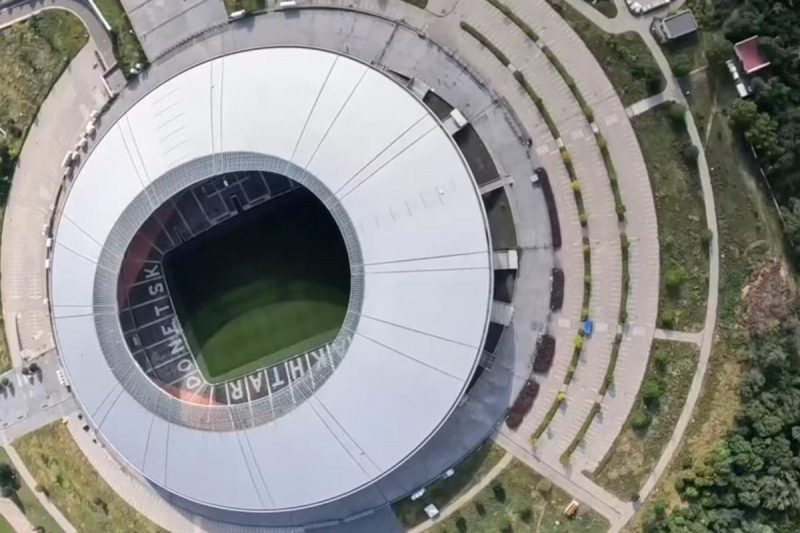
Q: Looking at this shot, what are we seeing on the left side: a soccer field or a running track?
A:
soccer field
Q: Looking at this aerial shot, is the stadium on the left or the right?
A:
left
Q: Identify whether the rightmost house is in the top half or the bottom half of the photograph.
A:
top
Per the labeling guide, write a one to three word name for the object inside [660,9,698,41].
house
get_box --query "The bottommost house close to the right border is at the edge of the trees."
[730,37,769,74]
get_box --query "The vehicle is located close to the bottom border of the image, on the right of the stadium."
[562,499,579,517]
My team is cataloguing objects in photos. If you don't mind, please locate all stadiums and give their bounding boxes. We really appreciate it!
[49,47,493,513]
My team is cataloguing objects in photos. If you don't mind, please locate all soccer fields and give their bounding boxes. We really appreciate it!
[159,181,365,383]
